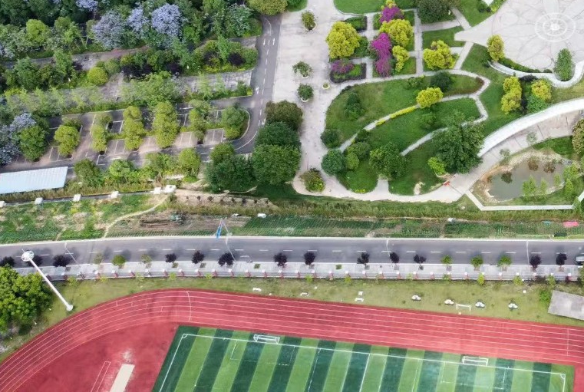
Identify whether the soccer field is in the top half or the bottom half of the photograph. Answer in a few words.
bottom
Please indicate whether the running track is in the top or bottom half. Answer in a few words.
bottom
